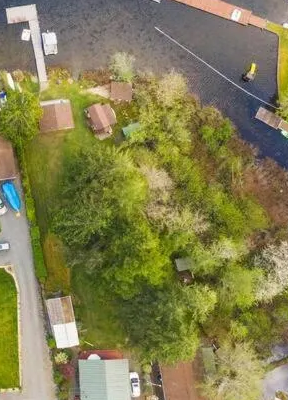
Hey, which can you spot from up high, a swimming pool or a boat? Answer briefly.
boat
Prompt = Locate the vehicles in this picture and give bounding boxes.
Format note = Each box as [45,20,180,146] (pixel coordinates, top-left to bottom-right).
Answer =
[129,373,143,400]
[0,197,9,217]
[0,240,12,253]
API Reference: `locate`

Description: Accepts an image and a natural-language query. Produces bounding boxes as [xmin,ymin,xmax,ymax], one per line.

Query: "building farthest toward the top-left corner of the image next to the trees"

[38,99,74,133]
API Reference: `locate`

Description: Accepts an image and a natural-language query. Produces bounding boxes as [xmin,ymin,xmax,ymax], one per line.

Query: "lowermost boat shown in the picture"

[2,180,21,219]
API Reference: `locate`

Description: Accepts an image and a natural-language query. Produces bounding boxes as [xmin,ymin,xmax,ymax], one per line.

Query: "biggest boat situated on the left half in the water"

[42,31,58,56]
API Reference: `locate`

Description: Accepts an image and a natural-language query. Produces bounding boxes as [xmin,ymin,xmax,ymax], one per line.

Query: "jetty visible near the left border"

[6,4,47,82]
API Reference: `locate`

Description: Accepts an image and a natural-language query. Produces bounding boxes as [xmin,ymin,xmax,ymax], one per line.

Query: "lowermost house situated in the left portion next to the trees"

[76,349,131,400]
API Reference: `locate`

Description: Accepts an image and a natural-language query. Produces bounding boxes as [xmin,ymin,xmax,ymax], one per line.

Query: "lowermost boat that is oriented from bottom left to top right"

[243,62,258,82]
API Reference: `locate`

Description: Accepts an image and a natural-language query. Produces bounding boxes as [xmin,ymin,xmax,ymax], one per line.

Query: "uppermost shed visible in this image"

[108,83,132,101]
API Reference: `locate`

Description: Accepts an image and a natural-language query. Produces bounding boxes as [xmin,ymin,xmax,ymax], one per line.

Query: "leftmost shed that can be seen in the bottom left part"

[45,294,78,348]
